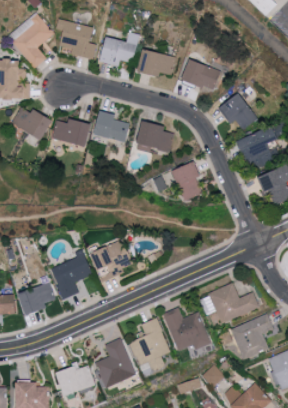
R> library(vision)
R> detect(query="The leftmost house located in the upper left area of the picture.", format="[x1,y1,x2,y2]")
[0,60,30,100]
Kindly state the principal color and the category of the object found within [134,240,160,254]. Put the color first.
blue swimming pool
